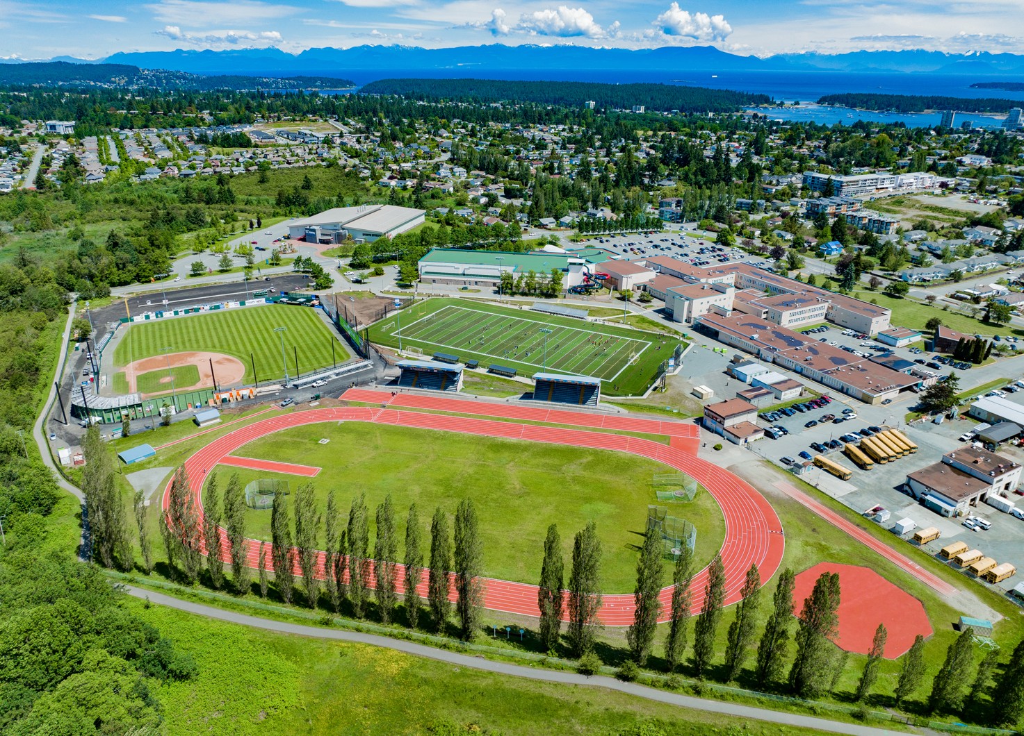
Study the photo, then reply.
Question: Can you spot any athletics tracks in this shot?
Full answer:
Yes, an athletics track can be made out from above.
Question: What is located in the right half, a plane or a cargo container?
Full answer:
What appears in the right half is a cargo container.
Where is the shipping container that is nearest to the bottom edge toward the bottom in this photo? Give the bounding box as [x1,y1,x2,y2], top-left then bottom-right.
[952,612,1003,640]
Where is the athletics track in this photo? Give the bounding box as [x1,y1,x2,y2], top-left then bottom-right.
[162,406,766,625]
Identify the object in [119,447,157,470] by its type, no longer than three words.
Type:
shed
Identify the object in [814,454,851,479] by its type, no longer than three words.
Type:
bus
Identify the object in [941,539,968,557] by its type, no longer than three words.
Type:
vehicle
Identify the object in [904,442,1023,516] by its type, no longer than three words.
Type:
building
